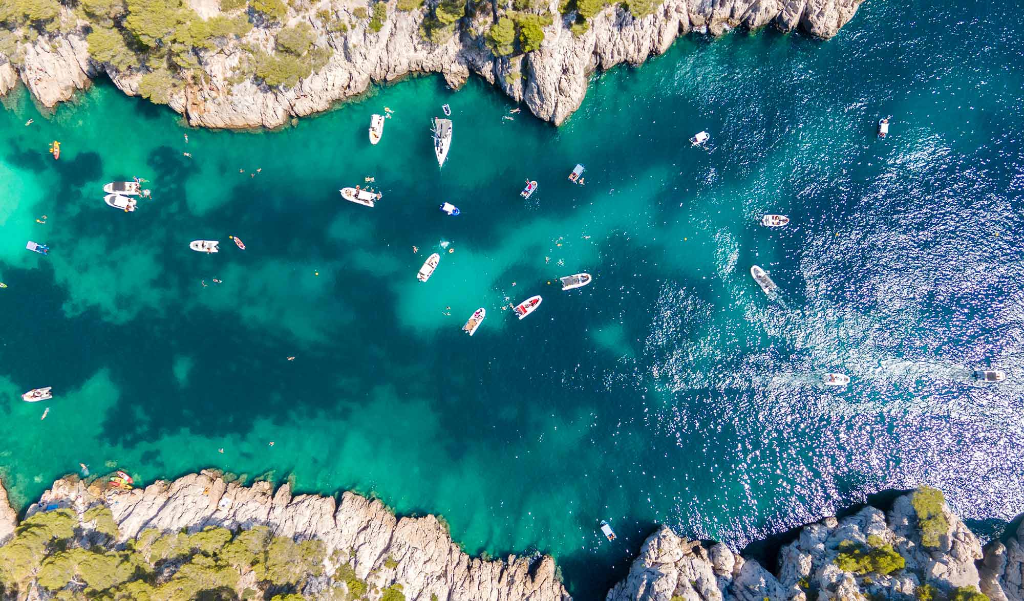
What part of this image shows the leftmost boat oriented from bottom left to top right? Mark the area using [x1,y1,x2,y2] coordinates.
[416,244,443,282]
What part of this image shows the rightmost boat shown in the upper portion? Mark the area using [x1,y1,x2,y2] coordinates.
[878,117,891,141]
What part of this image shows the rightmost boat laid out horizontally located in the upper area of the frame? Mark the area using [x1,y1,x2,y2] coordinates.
[758,214,791,227]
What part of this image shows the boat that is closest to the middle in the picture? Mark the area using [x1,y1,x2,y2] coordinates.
[514,293,546,319]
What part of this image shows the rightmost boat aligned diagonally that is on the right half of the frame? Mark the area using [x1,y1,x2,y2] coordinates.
[752,264,777,294]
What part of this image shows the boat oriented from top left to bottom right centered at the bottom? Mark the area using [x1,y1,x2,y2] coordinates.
[601,521,619,544]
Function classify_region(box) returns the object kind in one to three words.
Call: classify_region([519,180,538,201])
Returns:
boat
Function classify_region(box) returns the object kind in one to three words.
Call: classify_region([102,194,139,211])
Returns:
boat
